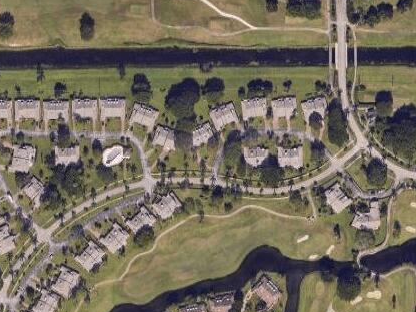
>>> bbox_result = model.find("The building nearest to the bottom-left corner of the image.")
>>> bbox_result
[33,290,62,312]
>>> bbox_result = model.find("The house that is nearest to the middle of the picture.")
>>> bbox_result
[189,122,216,149]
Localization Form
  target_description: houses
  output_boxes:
[0,225,20,253]
[21,177,48,201]
[43,101,69,119]
[189,122,216,149]
[129,102,159,129]
[210,103,240,130]
[51,267,81,295]
[325,182,354,210]
[278,148,304,167]
[254,278,282,306]
[11,145,37,172]
[180,305,206,312]
[0,101,13,120]
[301,99,329,123]
[33,290,62,312]
[101,223,128,255]
[127,205,158,231]
[16,101,41,120]
[100,99,125,118]
[271,99,297,117]
[55,147,80,163]
[209,293,233,312]
[72,100,98,119]
[75,243,104,274]
[153,192,184,217]
[241,99,268,119]
[154,125,177,148]
[244,148,269,165]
